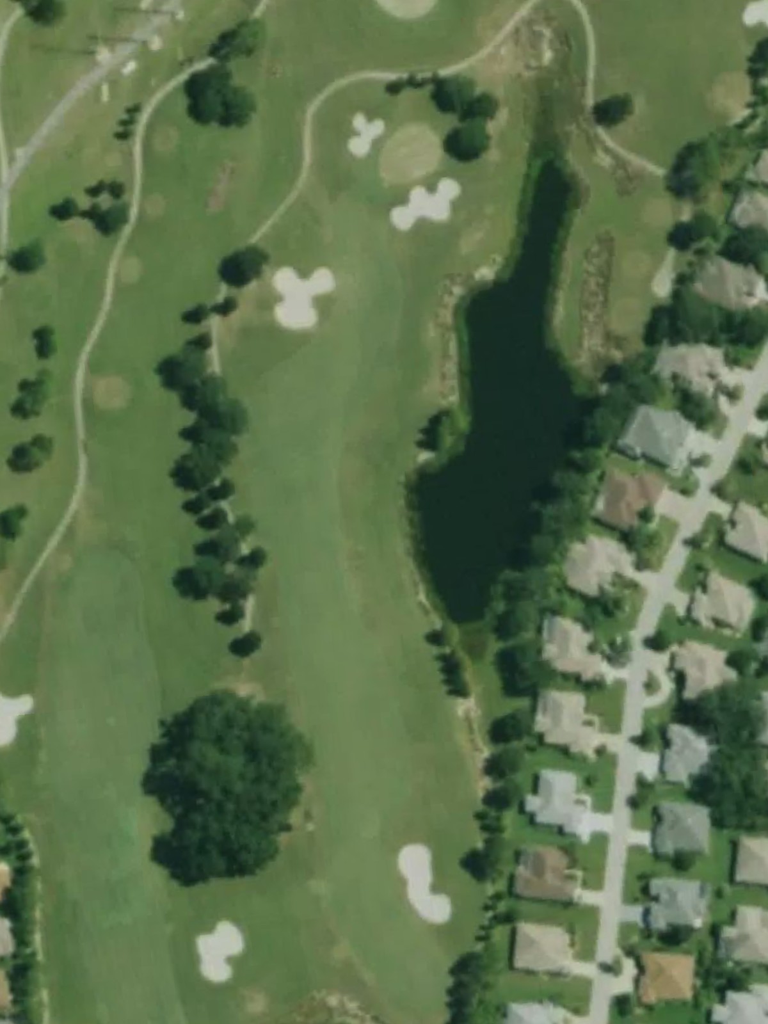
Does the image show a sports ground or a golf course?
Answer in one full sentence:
What you see here is a golf course.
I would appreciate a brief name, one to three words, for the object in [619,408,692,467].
house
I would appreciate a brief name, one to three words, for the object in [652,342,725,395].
house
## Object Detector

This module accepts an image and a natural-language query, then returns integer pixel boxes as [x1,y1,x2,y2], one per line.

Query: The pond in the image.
[415,161,591,623]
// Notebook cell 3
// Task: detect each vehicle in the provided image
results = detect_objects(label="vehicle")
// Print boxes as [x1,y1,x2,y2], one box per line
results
[122,59,137,73]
